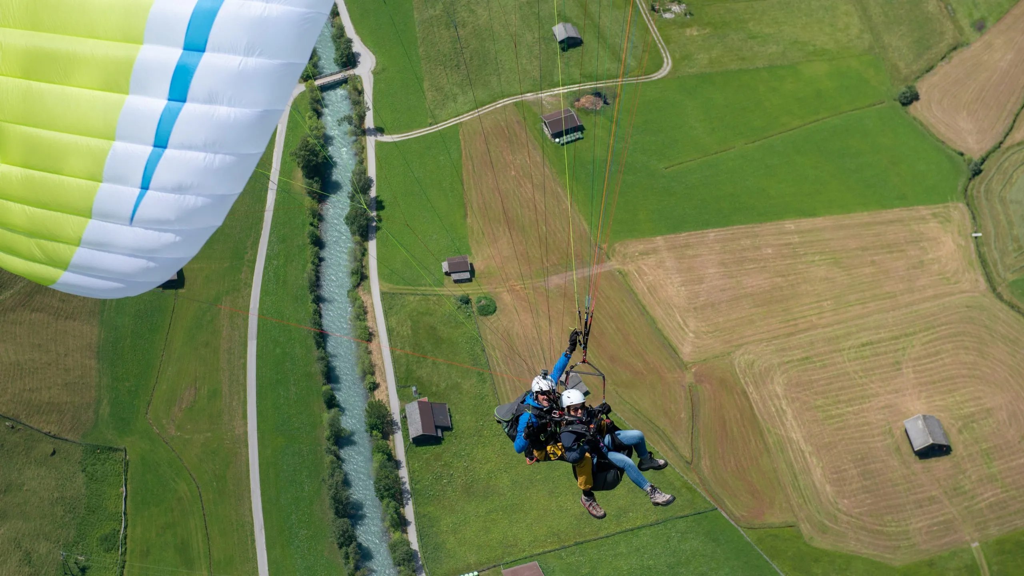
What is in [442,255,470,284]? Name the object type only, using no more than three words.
barn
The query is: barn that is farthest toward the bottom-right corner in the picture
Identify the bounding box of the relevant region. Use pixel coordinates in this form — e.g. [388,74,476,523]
[904,412,949,456]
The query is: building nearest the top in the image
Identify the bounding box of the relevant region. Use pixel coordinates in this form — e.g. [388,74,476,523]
[552,20,582,46]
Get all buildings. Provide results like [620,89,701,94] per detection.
[154,273,178,291]
[564,374,590,397]
[442,255,470,284]
[552,20,582,46]
[502,561,540,576]
[904,412,949,456]
[542,108,584,139]
[405,396,452,444]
